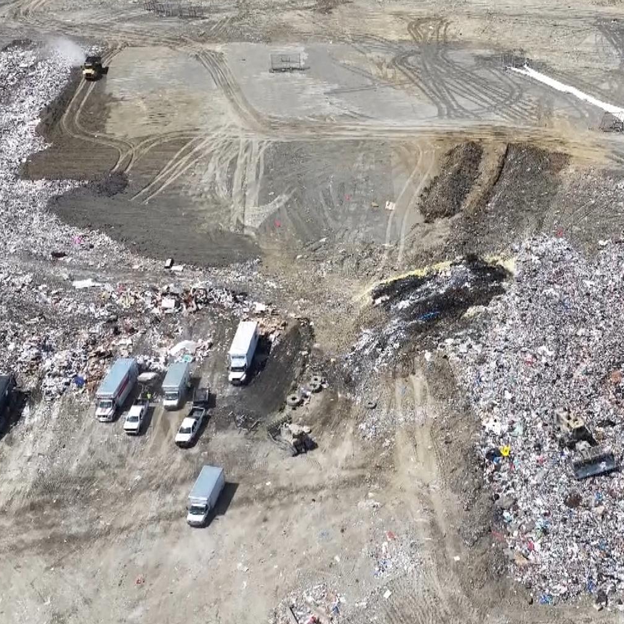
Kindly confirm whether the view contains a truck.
Yes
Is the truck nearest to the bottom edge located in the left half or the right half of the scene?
left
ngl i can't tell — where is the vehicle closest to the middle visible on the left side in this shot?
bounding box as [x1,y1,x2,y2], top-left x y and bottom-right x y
[228,322,256,384]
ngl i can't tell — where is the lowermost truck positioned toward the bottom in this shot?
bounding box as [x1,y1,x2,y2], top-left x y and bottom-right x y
[188,466,221,525]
